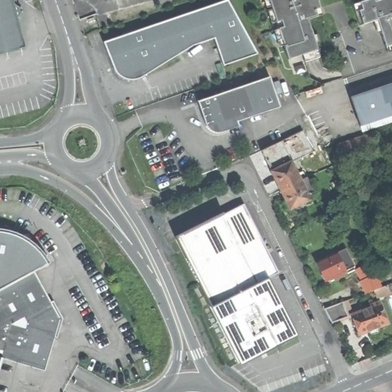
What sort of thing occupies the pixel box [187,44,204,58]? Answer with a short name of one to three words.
vehicle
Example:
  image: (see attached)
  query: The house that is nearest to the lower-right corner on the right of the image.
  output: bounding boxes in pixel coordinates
[348,302,390,336]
